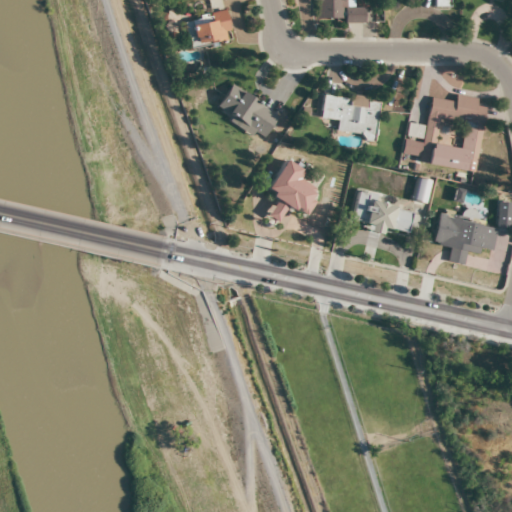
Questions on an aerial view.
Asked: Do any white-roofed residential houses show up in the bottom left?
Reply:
No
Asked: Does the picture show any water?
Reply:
Yes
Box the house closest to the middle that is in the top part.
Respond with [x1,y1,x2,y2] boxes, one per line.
[268,160,320,221]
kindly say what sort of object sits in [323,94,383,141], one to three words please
house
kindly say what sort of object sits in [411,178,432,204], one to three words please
shed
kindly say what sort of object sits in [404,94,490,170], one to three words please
house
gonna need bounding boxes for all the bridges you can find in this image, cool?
[0,199,171,273]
